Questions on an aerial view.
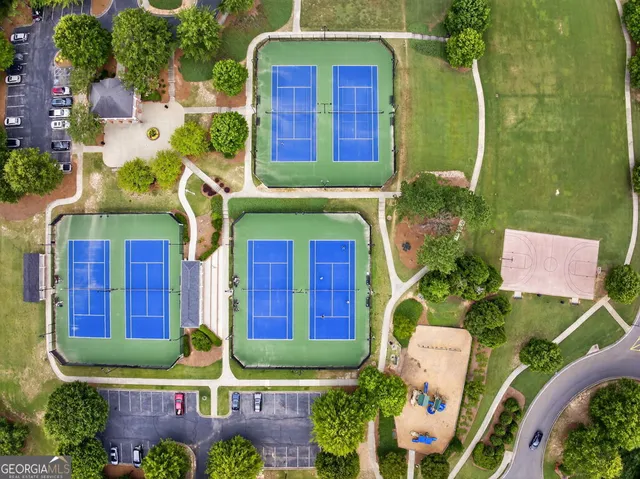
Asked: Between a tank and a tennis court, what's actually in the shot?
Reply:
tennis court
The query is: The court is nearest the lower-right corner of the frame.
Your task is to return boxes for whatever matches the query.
[500,229,599,299]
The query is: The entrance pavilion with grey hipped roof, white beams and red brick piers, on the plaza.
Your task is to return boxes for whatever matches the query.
[91,74,141,123]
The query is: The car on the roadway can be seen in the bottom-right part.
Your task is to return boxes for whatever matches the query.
[530,431,546,451]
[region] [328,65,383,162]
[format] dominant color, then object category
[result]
blue tennis court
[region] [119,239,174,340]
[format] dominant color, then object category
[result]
blue tennis court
